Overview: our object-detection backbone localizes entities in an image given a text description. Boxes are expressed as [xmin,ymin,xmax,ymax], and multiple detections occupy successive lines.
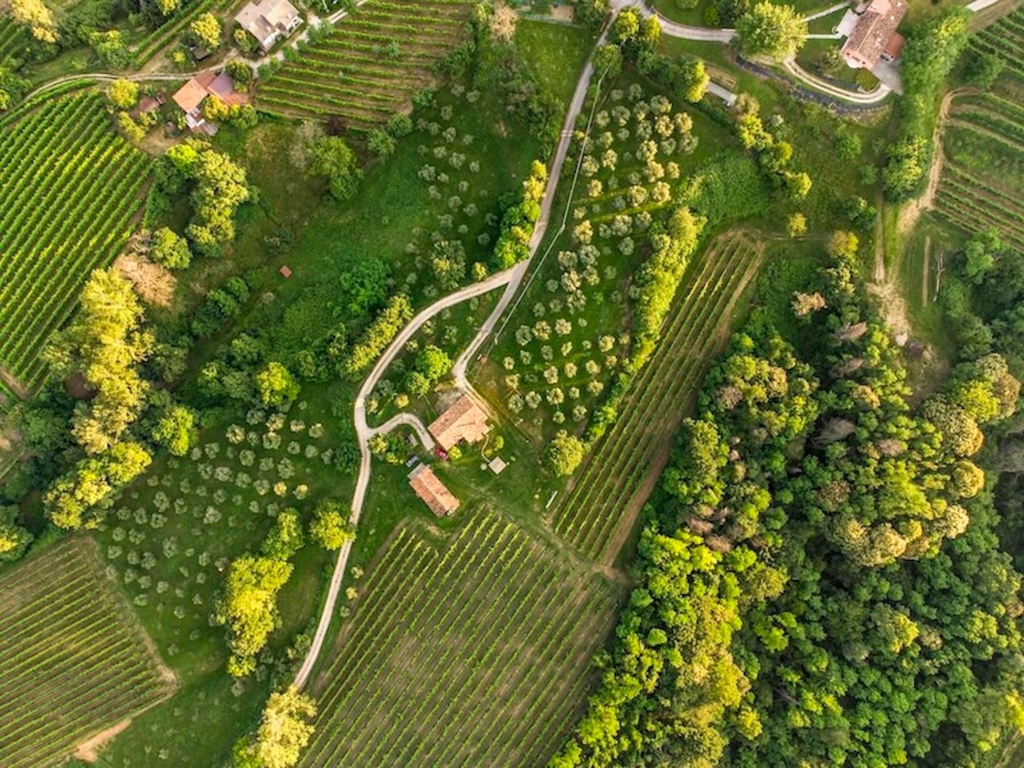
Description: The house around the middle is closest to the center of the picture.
[427,393,493,451]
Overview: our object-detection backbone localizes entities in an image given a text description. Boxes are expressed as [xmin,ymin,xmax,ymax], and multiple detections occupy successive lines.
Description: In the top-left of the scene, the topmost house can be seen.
[234,0,305,52]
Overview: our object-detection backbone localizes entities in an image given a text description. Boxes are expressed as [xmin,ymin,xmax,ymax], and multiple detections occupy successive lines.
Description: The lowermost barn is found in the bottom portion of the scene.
[407,461,462,517]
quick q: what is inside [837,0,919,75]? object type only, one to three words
house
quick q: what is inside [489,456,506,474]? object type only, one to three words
gazebo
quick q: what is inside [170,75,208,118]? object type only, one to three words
building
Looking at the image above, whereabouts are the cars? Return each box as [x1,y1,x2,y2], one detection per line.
[435,447,449,459]
[405,456,419,467]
